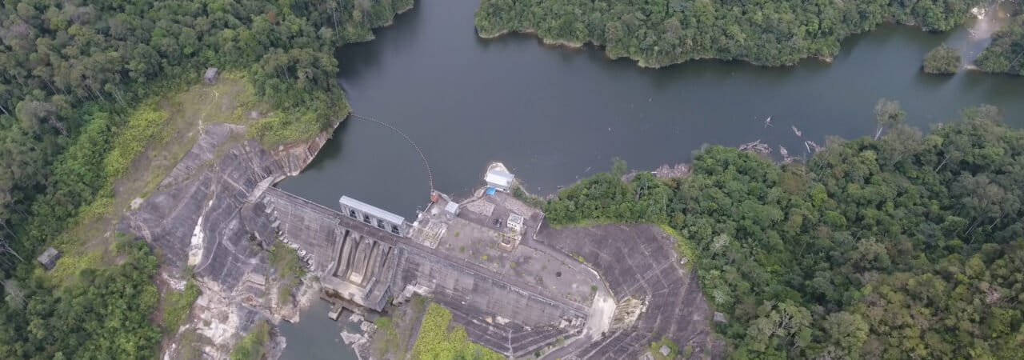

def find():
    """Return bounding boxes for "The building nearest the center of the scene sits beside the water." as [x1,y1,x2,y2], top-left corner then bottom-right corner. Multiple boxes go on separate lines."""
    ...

[482,165,515,193]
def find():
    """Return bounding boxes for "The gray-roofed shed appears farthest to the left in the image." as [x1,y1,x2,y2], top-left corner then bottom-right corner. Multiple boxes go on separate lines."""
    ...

[33,250,59,274]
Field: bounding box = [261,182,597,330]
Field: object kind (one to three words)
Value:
dam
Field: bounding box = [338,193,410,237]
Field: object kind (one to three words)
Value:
building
